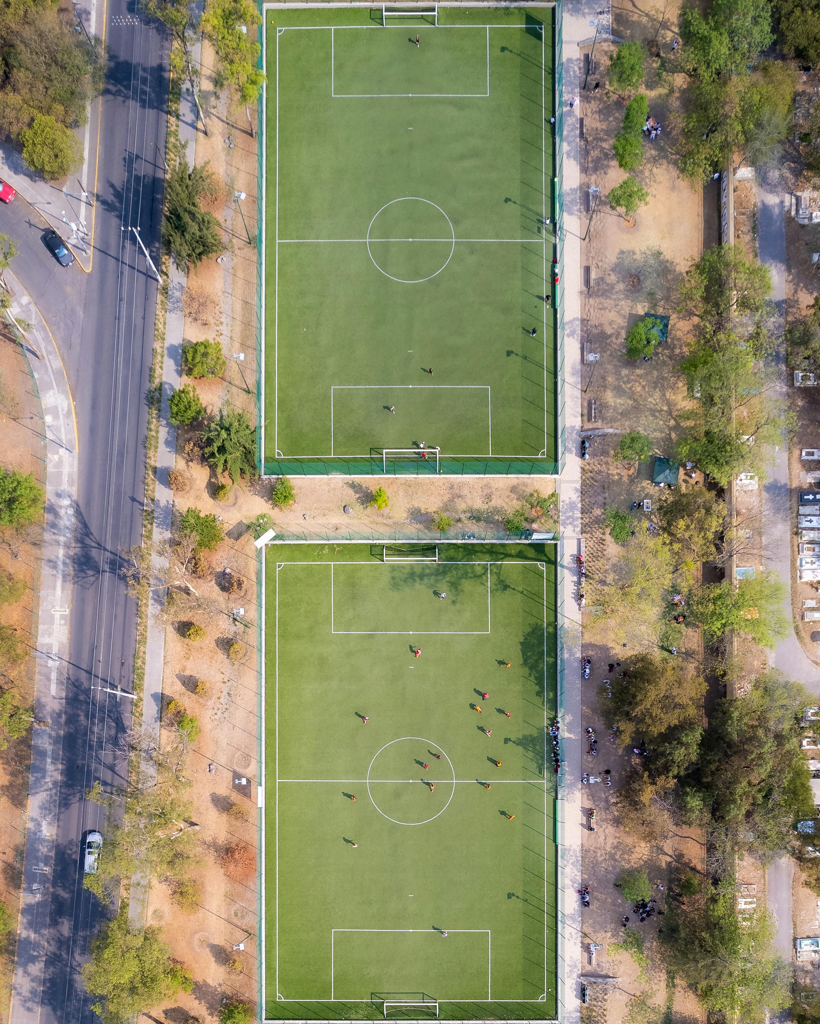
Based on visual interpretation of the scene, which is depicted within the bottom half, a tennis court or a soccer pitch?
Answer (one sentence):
The feature located within the bottom half is a soccer pitch.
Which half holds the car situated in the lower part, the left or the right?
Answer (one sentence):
The car situated in the lower part appears in the left half of the scene.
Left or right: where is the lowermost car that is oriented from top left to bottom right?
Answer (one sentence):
The lowermost car that is oriented from top left to bottom right is on the left side of the image.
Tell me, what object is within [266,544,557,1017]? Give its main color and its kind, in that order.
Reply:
green soccer field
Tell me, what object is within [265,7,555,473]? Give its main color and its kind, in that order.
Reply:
green soccer field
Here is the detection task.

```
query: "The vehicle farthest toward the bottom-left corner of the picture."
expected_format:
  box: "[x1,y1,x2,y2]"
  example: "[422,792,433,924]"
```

[83,831,104,875]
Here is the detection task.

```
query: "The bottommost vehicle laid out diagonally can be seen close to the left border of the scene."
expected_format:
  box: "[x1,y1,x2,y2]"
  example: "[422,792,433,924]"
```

[41,225,75,267]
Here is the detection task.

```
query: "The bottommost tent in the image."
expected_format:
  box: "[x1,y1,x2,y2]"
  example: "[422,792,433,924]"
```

[648,457,680,487]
